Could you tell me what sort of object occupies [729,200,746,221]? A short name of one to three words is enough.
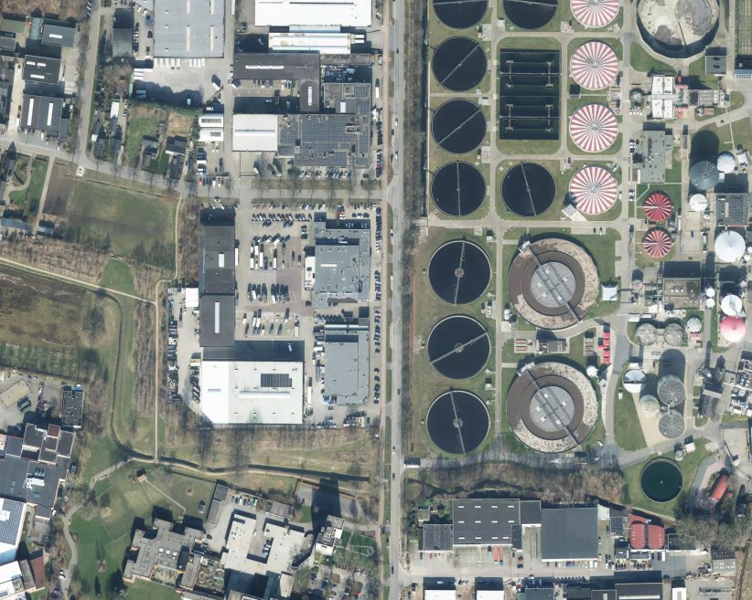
solar array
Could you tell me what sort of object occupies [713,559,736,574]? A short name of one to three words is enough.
shed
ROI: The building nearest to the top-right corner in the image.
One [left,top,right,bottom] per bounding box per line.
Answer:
[705,56,727,74]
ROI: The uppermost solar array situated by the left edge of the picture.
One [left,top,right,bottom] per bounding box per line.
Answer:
[0,501,23,545]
